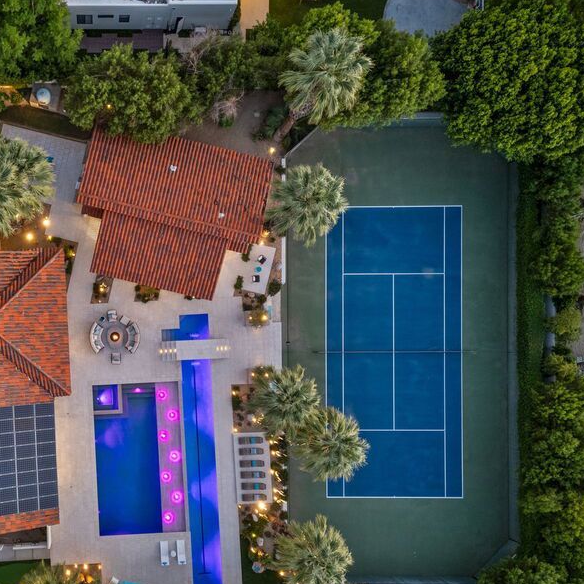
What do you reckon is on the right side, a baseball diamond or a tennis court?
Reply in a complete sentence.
It is a tennis court that can be seen on the right side.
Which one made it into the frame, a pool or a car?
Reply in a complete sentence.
I can see a pool in this picture.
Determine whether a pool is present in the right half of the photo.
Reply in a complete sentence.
No, I see no pool in the right half of the photo.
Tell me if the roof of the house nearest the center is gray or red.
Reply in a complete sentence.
The roof of the house nearest the center looks red in the image.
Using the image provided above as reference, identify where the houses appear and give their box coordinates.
[77,126,277,300]
[71,0,239,40]
[0,247,72,534]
